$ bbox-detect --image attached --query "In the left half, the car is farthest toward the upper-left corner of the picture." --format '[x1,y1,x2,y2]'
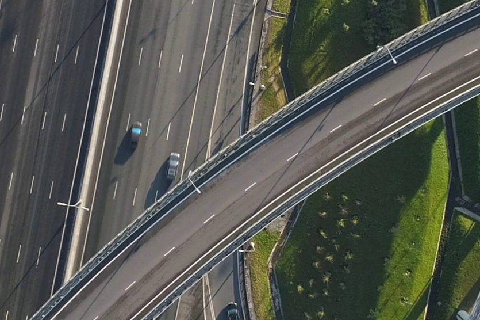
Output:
[129,122,142,148]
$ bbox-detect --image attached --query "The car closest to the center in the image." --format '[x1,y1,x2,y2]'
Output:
[166,152,180,181]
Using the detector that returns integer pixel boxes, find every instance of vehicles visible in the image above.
[129,122,142,148]
[166,152,180,181]
[225,303,238,320]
